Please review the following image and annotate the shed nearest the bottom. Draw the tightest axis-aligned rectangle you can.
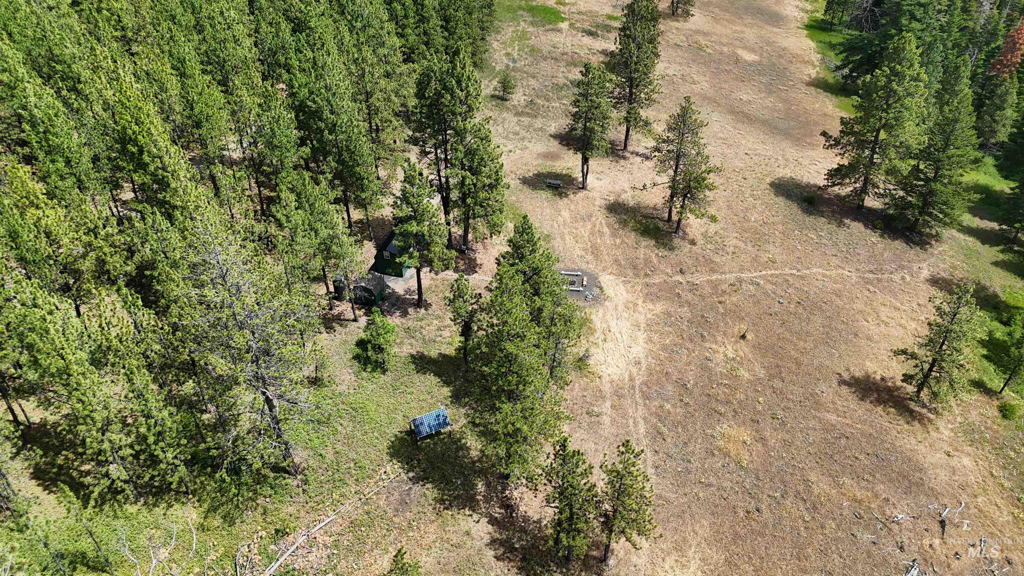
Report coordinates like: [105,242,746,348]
[350,268,388,305]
